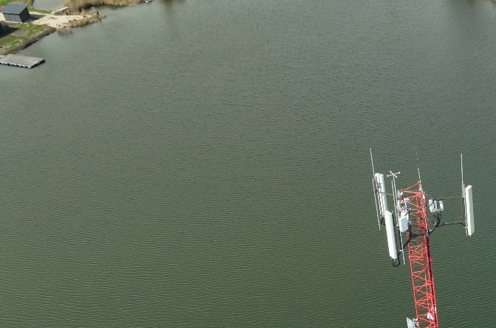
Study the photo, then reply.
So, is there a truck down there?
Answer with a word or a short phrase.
No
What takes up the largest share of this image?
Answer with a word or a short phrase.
water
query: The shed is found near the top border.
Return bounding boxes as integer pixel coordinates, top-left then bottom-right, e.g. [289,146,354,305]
[0,0,39,22]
